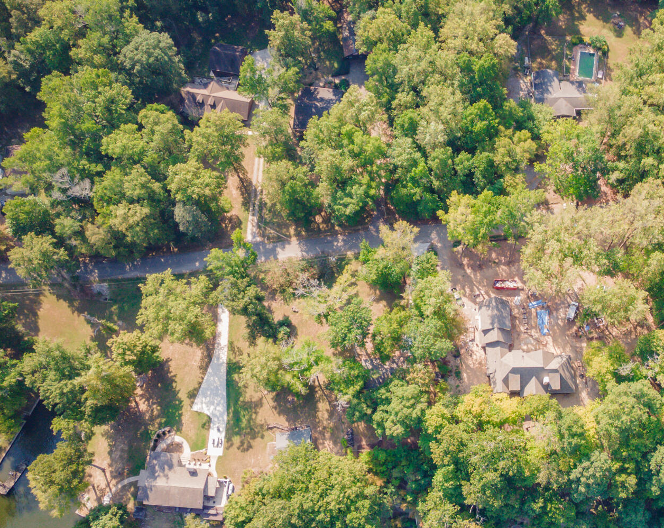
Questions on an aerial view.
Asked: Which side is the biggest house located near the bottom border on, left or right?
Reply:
left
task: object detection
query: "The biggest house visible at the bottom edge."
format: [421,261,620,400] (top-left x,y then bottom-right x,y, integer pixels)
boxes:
[136,452,218,508]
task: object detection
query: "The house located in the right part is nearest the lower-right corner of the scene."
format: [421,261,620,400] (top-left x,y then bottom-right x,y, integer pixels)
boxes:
[478,297,575,397]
